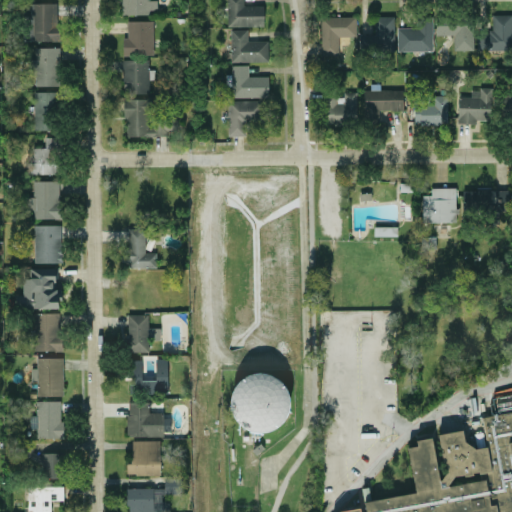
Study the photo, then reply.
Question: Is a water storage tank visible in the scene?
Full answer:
Yes, looking at the shot, I can spot a water storage tank.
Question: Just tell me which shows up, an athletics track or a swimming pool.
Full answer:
The one in the frame is a swimming pool.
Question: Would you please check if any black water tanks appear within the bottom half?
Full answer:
No, within the bottom half there is no black water tank.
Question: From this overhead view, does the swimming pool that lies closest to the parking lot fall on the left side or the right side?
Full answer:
The swimming pool that lies closest to the parking lot sits on the right side.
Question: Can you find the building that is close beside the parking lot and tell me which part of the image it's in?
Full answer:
You can find the building that is close beside the parking lot in the bottom right area of the picture.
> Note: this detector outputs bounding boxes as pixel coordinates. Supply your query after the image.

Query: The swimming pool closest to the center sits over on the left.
[158,234,184,252]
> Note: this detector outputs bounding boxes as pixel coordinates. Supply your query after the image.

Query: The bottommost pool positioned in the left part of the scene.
[172,405,189,436]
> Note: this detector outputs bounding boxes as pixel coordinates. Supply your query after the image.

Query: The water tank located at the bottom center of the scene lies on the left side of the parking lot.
[232,374,290,434]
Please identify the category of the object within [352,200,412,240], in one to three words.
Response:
swimming pool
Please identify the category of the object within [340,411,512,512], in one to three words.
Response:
building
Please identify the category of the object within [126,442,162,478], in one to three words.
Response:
house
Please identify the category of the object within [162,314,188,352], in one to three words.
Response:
swimming pool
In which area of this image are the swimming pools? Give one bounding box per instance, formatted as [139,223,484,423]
[143,356,158,382]
[172,405,189,436]
[12,373,23,384]
[352,200,412,240]
[158,234,184,252]
[162,314,188,352]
